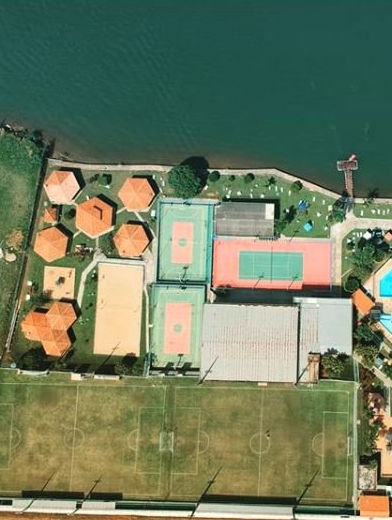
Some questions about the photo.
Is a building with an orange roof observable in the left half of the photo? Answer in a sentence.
Yes, looking in the left half of the photo, one can make out a building with an orange roof.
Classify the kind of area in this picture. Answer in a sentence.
This looks like a sports ground.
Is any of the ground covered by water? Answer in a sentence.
Yes, the picture does contain water.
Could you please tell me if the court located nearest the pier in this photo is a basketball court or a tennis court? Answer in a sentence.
I'd say the court located nearest the pier is a tennis court.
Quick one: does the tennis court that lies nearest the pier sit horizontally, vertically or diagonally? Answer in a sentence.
The tennis court that lies nearest the pier is oriented horizontally.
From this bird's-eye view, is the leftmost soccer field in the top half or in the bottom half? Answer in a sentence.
The leftmost soccer field sits in the bottom half of the picture.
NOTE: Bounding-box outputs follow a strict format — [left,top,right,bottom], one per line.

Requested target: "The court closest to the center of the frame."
[158,199,214,281]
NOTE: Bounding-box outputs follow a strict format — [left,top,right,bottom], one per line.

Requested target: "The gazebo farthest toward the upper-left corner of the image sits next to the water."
[46,171,84,205]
